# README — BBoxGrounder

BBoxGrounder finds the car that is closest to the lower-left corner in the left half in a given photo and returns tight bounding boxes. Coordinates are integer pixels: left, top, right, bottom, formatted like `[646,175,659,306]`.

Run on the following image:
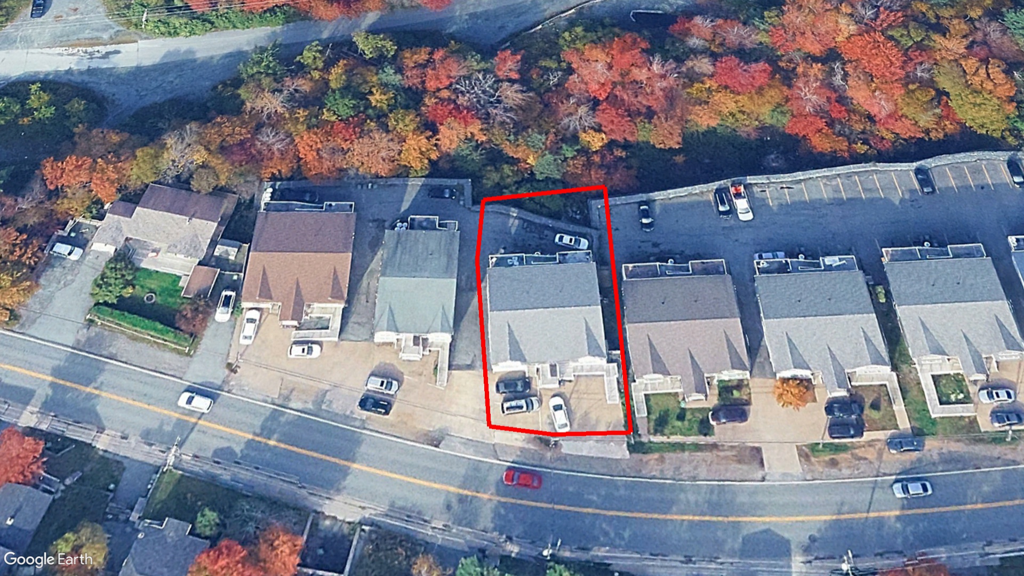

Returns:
[177,390,216,412]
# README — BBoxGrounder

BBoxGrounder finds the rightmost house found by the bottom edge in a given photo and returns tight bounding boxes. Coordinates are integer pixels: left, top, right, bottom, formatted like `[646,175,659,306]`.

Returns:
[113,518,211,576]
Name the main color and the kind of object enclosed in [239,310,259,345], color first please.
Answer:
white car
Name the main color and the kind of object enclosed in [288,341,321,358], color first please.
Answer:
white car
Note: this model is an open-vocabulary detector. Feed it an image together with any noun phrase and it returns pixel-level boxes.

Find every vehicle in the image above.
[177,390,216,412]
[886,435,925,452]
[28,0,44,19]
[892,480,933,497]
[357,394,394,415]
[239,310,259,345]
[288,341,321,358]
[1005,156,1024,189]
[217,290,235,323]
[730,181,752,222]
[714,185,732,219]
[978,386,1015,404]
[553,231,590,253]
[279,188,319,206]
[639,201,654,232]
[709,406,750,424]
[365,375,400,395]
[989,410,1024,429]
[825,399,863,417]
[753,250,785,262]
[495,377,531,394]
[502,469,543,489]
[914,165,934,195]
[500,394,541,415]
[49,240,85,261]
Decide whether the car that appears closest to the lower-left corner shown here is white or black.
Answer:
white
